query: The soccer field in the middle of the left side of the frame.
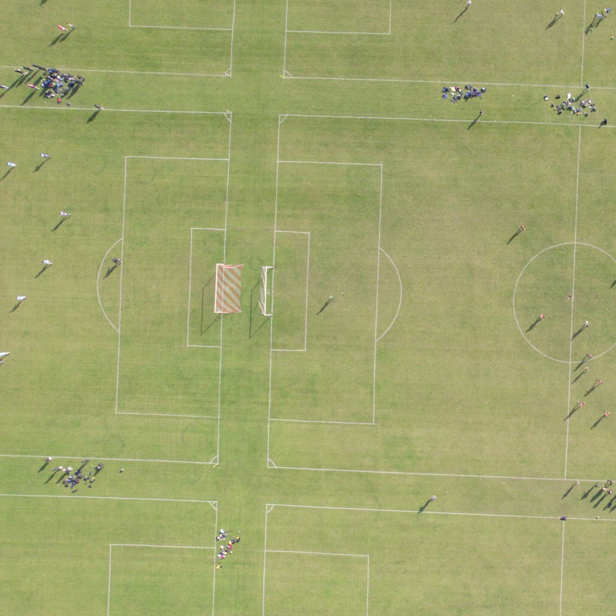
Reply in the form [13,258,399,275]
[0,105,232,465]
